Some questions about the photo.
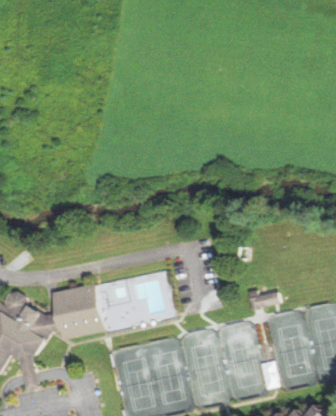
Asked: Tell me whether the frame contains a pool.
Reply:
Yes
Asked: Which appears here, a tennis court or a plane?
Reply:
tennis court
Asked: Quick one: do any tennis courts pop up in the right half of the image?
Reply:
Yes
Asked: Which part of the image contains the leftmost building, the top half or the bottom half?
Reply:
bottom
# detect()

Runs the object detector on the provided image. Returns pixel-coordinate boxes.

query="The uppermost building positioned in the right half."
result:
[250,291,282,311]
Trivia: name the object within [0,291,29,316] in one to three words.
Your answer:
building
